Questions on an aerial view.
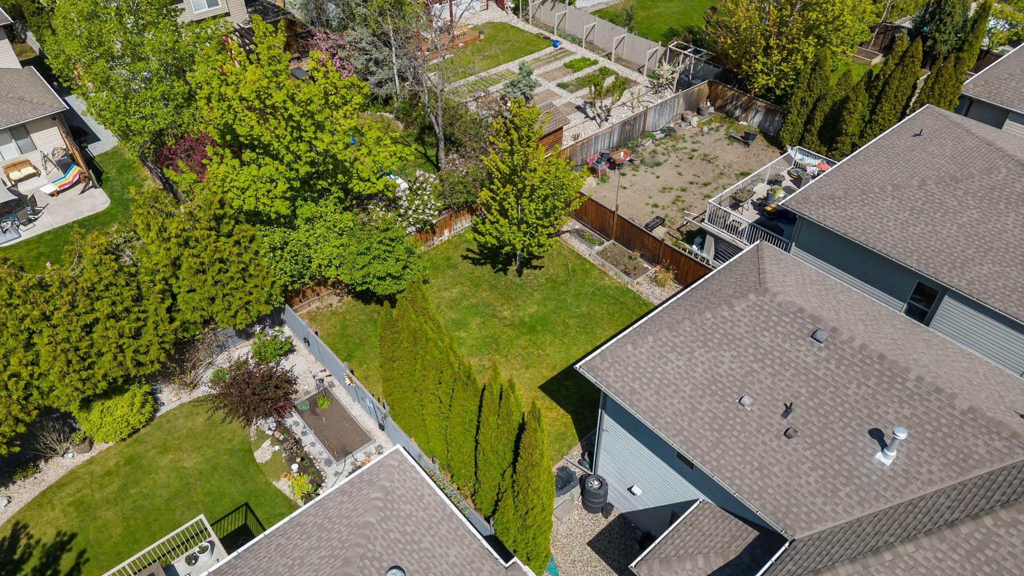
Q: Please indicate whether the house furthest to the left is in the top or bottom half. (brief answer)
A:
top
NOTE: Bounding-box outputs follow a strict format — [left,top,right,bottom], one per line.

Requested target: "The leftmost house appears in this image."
[0,7,78,183]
